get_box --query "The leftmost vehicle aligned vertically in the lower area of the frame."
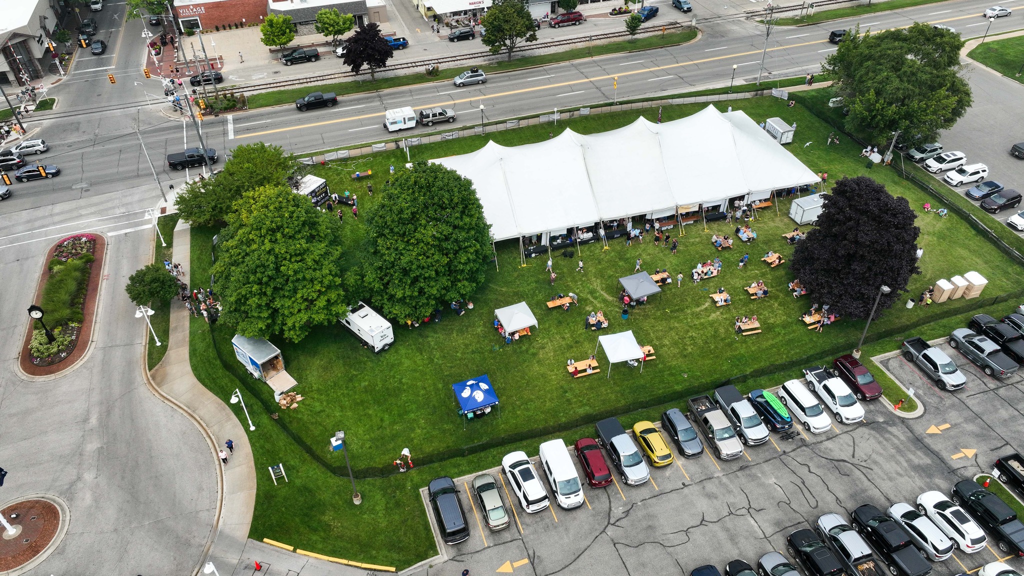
[426,470,472,548]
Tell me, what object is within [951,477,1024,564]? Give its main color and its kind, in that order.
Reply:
black truck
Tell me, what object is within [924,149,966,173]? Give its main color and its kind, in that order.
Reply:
white car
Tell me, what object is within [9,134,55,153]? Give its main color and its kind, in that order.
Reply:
gray car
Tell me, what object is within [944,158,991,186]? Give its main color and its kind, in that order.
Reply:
white car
